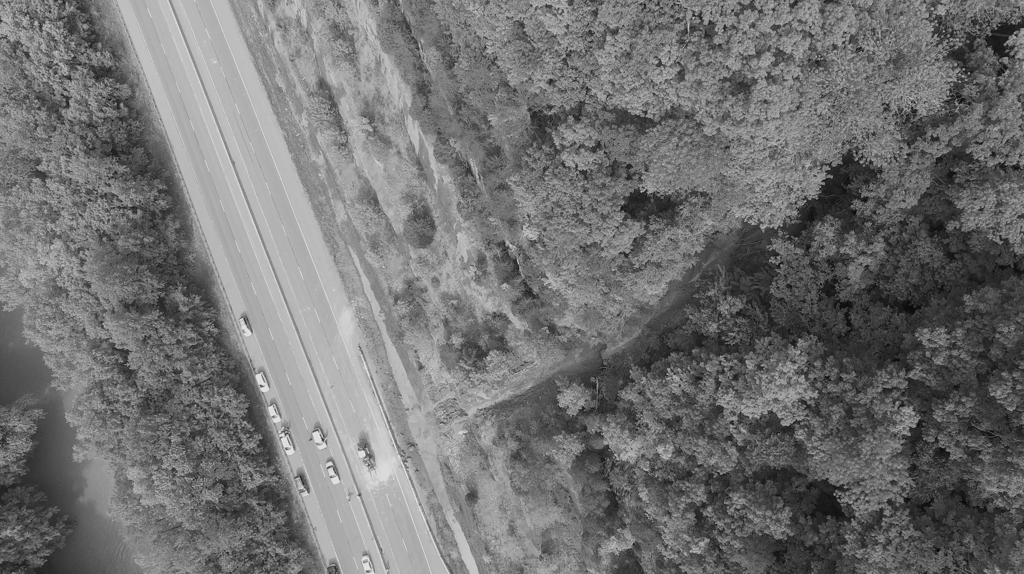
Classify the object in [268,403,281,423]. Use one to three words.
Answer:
vehicle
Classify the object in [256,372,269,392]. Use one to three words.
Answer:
vehicle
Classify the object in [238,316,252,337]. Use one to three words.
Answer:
car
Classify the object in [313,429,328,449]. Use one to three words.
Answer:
car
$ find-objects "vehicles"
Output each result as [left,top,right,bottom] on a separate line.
[313,429,328,449]
[358,443,377,475]
[280,433,294,454]
[268,403,281,423]
[238,316,252,337]
[256,372,269,392]
[295,474,309,496]
[361,554,374,574]
[327,563,338,574]
[326,462,339,482]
